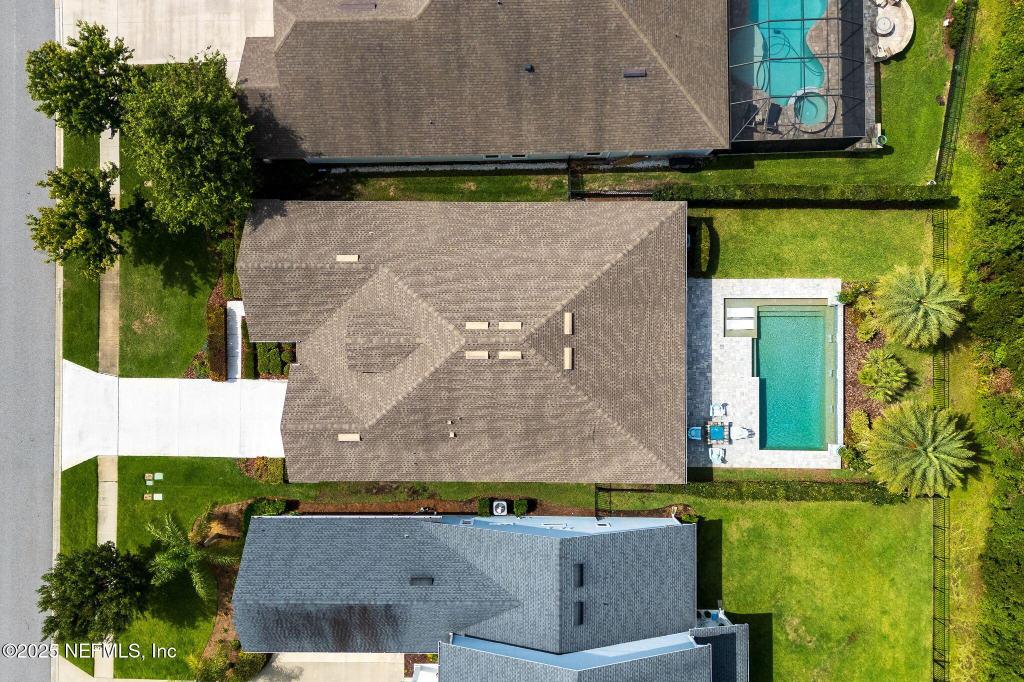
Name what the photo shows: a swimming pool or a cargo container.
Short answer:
swimming pool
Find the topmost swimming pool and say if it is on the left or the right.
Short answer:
right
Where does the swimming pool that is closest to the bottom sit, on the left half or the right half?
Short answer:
right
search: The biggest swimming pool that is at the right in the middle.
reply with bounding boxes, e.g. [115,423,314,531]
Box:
[725,297,845,452]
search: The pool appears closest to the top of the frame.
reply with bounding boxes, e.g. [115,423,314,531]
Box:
[730,0,832,108]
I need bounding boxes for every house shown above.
[237,199,689,486]
[236,0,730,166]
[235,508,751,682]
